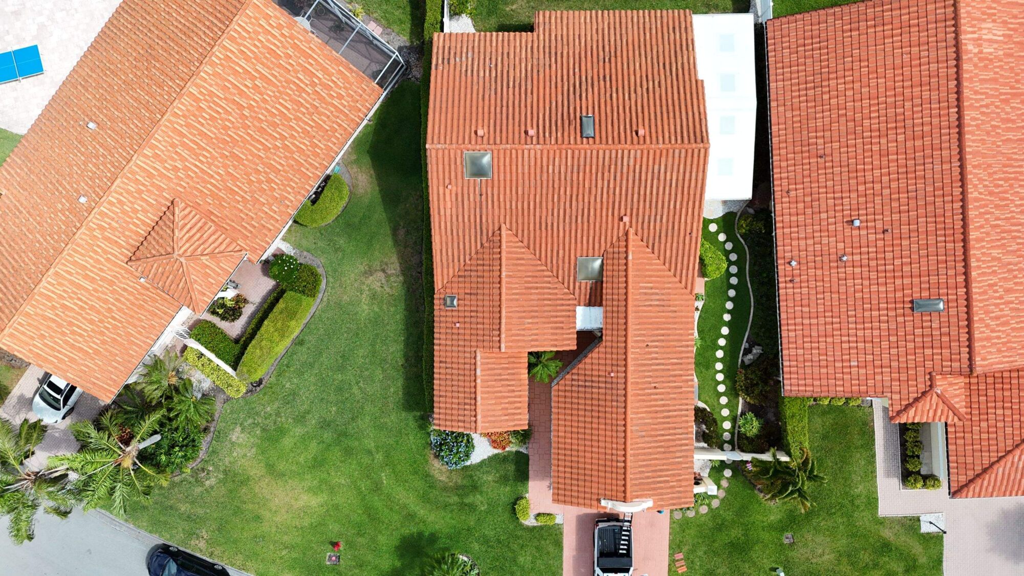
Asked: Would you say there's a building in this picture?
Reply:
Yes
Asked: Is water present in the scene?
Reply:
No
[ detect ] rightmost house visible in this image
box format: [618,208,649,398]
[759,0,1024,501]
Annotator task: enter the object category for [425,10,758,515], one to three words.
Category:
house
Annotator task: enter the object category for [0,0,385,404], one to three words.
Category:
house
